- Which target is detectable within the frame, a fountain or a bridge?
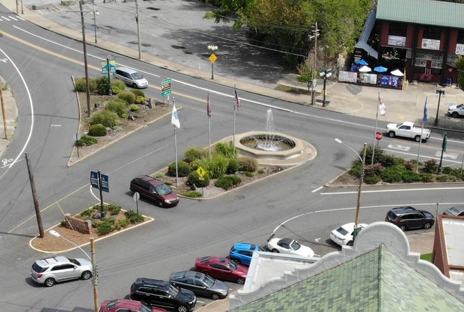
fountain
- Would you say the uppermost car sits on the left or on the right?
left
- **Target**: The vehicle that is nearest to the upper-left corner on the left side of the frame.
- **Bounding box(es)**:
[113,65,147,86]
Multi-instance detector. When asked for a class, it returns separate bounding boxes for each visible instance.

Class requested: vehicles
[128,276,199,312]
[268,236,318,256]
[193,256,249,283]
[166,270,231,299]
[448,102,464,117]
[437,200,464,218]
[129,174,179,206]
[229,241,277,263]
[385,121,432,142]
[386,206,438,230]
[113,65,147,86]
[30,254,97,286]
[98,298,167,312]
